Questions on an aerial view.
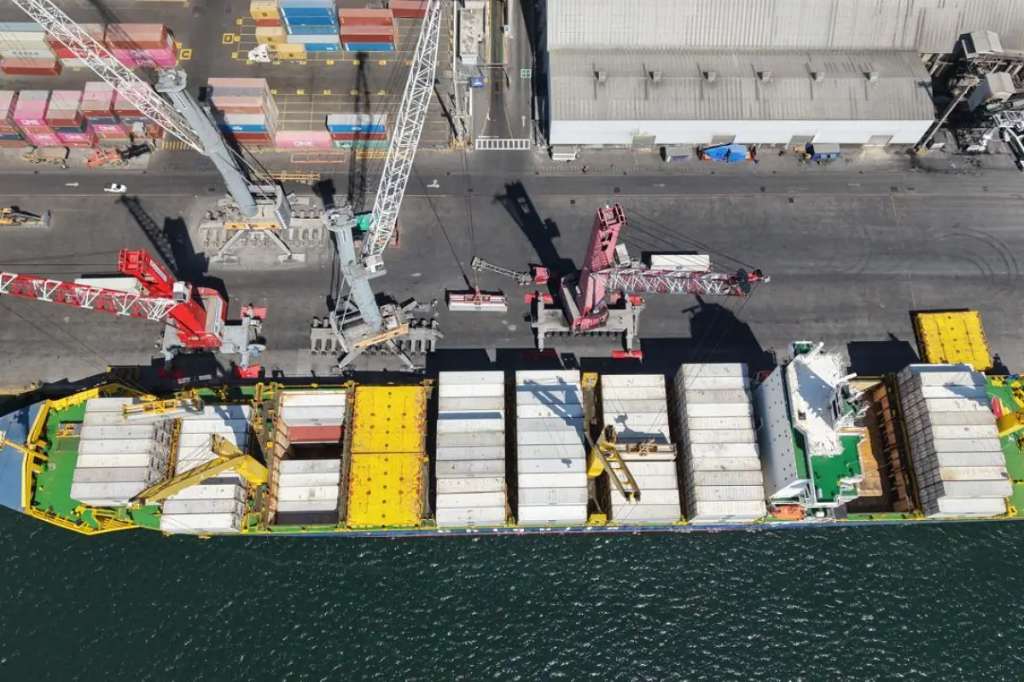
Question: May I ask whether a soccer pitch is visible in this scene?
No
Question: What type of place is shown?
port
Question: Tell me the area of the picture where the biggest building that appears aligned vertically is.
top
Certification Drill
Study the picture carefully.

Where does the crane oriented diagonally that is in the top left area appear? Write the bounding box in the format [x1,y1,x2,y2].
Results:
[16,0,320,266]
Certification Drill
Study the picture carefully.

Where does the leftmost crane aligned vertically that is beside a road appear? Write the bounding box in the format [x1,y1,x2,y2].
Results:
[309,0,478,378]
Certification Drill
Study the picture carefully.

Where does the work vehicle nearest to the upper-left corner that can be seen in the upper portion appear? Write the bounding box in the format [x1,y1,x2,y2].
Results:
[20,144,67,166]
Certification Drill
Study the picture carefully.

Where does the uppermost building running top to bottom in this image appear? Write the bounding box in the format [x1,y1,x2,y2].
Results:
[459,7,483,64]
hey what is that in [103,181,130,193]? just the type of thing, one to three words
vehicle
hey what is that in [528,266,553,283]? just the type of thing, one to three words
work vehicle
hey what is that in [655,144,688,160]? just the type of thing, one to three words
vehicle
